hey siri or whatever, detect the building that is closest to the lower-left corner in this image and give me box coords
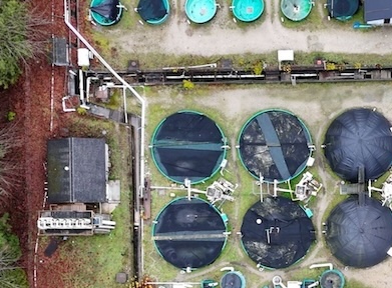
[48,136,114,203]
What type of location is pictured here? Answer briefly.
industrial area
